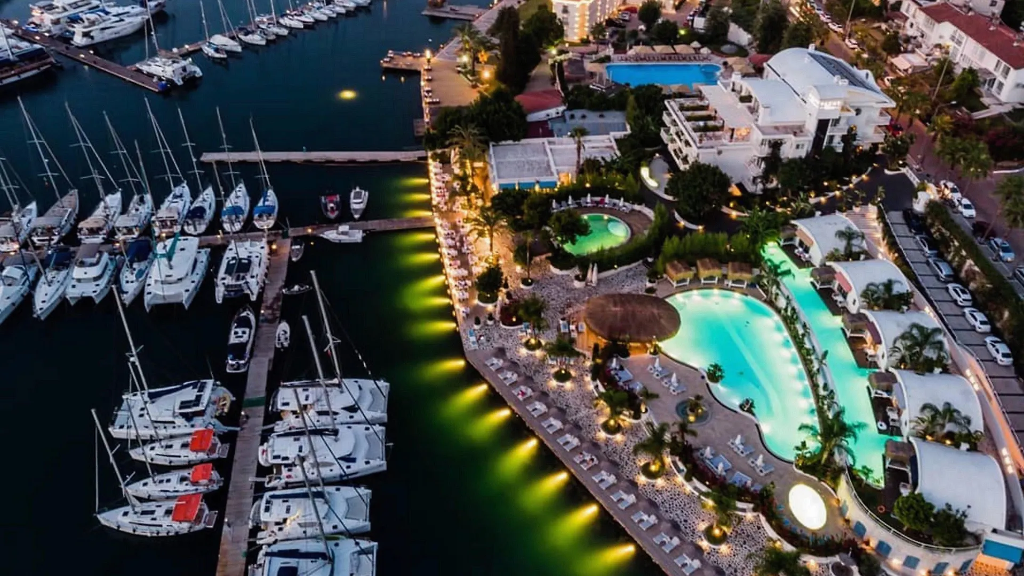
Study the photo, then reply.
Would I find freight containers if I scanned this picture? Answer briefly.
No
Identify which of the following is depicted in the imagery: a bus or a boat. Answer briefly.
boat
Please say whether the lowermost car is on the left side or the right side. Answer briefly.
right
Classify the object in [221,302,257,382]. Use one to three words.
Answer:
boat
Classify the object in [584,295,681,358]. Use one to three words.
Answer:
building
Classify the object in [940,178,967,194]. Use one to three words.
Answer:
car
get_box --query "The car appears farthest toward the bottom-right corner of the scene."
[982,331,1023,364]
